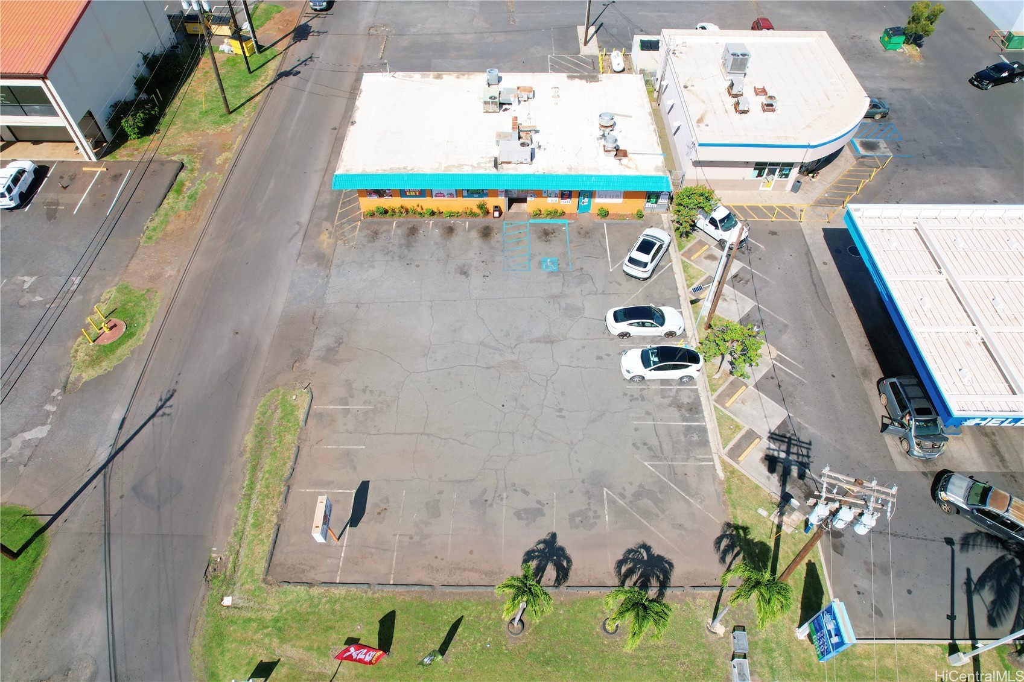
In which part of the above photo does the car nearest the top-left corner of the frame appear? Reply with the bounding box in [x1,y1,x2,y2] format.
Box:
[0,161,37,207]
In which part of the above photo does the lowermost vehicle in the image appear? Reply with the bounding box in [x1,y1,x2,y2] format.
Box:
[930,473,1024,555]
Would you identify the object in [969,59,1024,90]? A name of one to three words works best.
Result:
truck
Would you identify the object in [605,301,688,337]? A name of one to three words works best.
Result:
car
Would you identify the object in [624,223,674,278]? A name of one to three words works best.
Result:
car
